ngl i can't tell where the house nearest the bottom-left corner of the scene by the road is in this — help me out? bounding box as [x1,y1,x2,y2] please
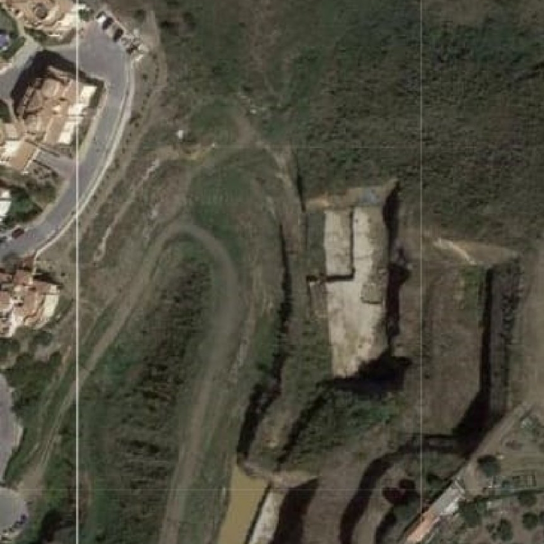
[0,268,59,336]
